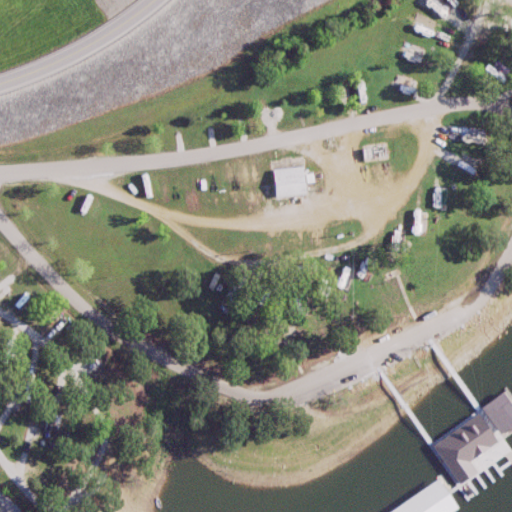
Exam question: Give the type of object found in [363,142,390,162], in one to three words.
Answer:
building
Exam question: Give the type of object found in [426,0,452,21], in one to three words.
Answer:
camper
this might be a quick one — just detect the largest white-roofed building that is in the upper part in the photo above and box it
[274,166,307,200]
